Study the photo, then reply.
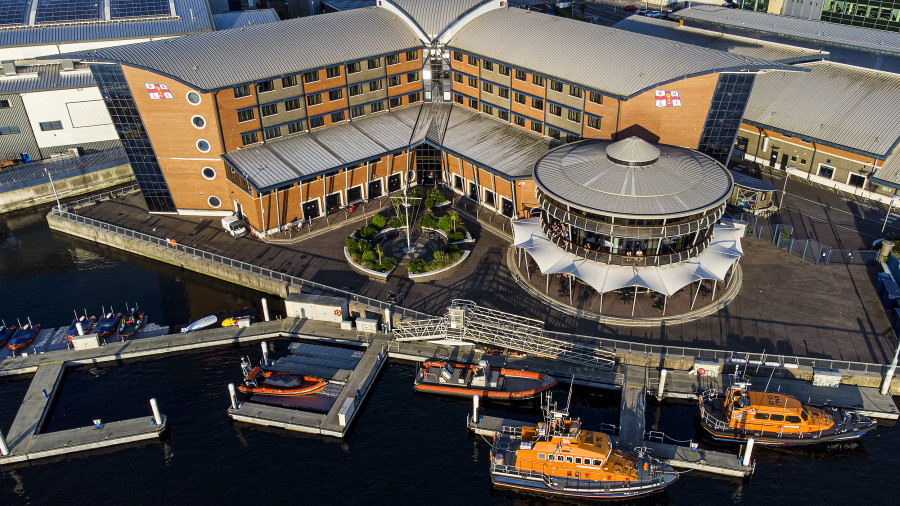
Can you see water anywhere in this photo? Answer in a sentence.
Yes, there is water in the image.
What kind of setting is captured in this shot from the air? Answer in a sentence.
It's an industrial area.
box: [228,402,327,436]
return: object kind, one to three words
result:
pier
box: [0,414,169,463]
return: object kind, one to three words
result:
pier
